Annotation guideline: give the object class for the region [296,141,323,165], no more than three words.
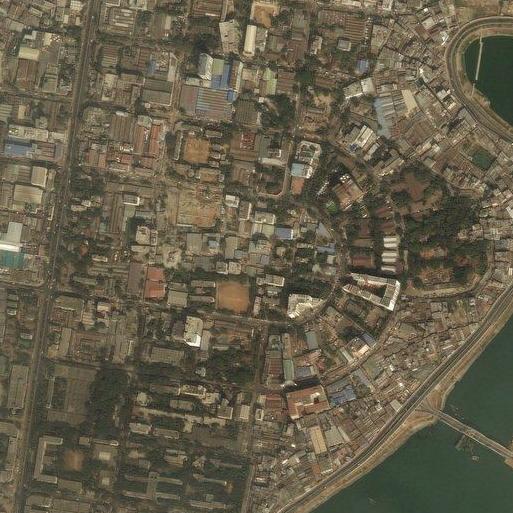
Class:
building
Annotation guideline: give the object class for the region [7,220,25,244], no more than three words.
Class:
shed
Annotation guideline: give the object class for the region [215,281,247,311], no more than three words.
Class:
sports field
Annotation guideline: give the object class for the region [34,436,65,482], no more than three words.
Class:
building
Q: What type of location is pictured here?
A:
residential area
